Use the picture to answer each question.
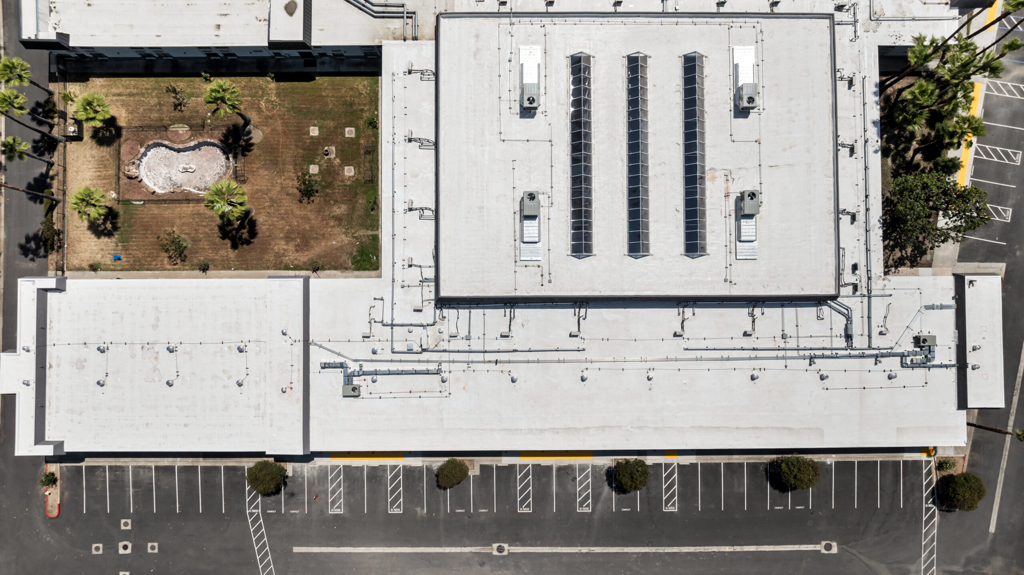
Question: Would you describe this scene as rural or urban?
urban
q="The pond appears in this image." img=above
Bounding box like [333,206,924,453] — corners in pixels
[135,138,233,196]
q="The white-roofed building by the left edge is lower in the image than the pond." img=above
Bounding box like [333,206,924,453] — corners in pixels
[0,277,311,455]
